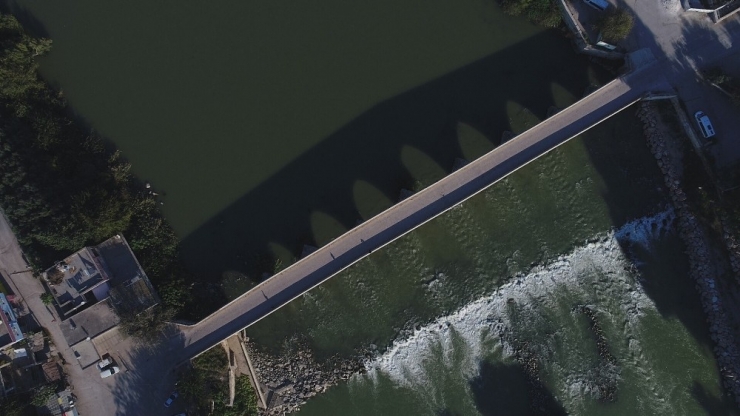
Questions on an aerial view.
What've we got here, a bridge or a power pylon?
bridge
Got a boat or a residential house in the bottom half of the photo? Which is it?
residential house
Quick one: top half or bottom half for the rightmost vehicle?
top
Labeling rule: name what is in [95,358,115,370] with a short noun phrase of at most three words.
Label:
vehicle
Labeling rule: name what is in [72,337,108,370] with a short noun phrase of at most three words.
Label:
shed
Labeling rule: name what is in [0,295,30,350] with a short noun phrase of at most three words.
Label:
house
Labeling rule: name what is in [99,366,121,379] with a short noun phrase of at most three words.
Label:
vehicle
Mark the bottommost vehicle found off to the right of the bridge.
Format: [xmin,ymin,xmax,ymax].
[694,111,718,139]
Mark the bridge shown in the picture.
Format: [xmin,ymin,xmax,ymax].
[152,60,663,369]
